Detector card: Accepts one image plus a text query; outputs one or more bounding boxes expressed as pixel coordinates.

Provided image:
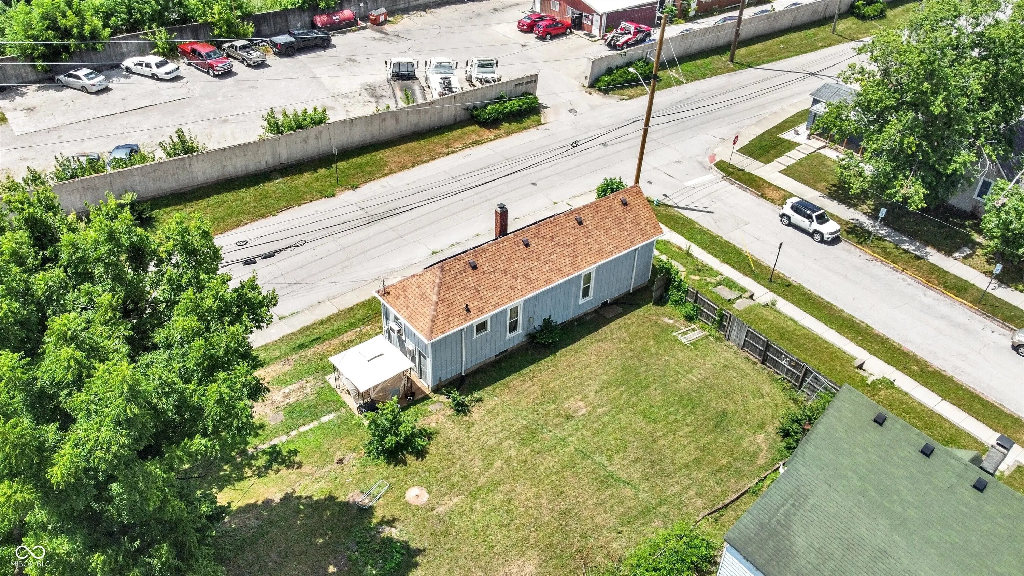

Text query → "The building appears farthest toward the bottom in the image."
[718,382,1024,576]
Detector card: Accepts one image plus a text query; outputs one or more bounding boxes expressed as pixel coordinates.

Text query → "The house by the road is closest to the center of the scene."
[371,185,669,390]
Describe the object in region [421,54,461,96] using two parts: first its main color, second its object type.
white truck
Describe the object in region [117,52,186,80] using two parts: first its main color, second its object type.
white car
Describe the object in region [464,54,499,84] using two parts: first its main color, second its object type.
white truck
